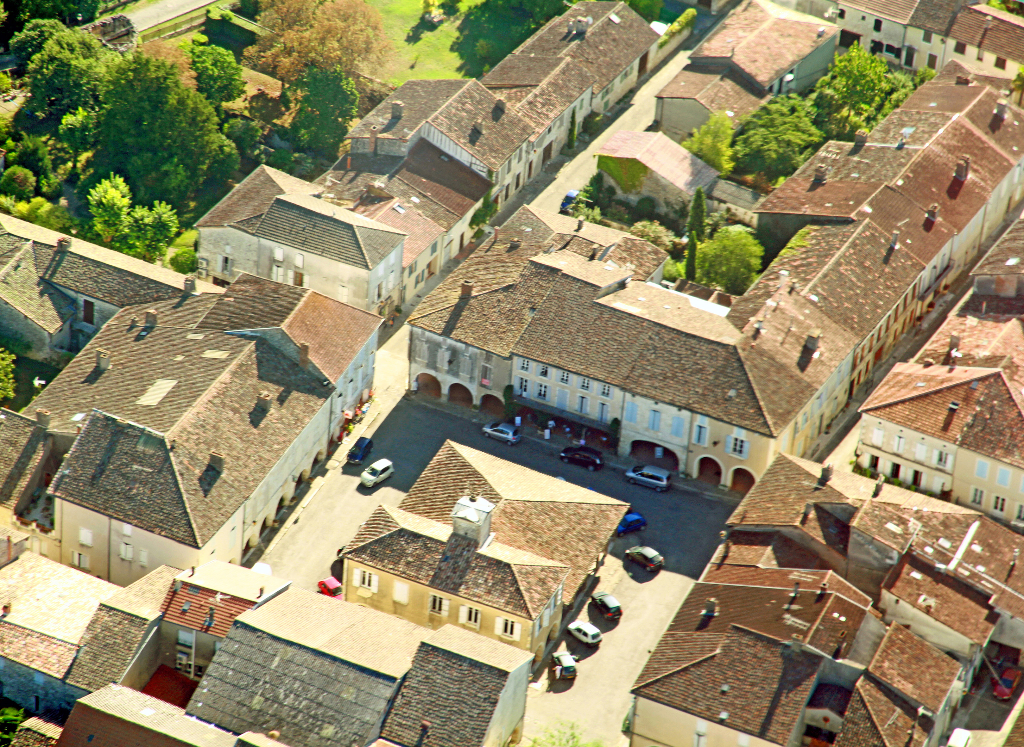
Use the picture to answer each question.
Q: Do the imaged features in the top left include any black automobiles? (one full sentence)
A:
No, the scene shows no black automobile in the top left.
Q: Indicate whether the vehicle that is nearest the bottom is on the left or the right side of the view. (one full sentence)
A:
The vehicle that is nearest the bottom sits on the right side.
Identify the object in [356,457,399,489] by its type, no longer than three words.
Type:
car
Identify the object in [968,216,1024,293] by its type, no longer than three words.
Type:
house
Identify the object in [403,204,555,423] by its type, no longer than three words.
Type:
house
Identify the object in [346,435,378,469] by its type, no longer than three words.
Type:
car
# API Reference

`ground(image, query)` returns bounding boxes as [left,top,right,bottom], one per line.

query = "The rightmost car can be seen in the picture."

[992,663,1024,701]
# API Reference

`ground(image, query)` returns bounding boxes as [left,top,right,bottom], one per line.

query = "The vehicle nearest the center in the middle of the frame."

[479,422,524,448]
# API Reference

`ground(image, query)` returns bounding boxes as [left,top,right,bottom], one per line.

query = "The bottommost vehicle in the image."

[946,722,974,747]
